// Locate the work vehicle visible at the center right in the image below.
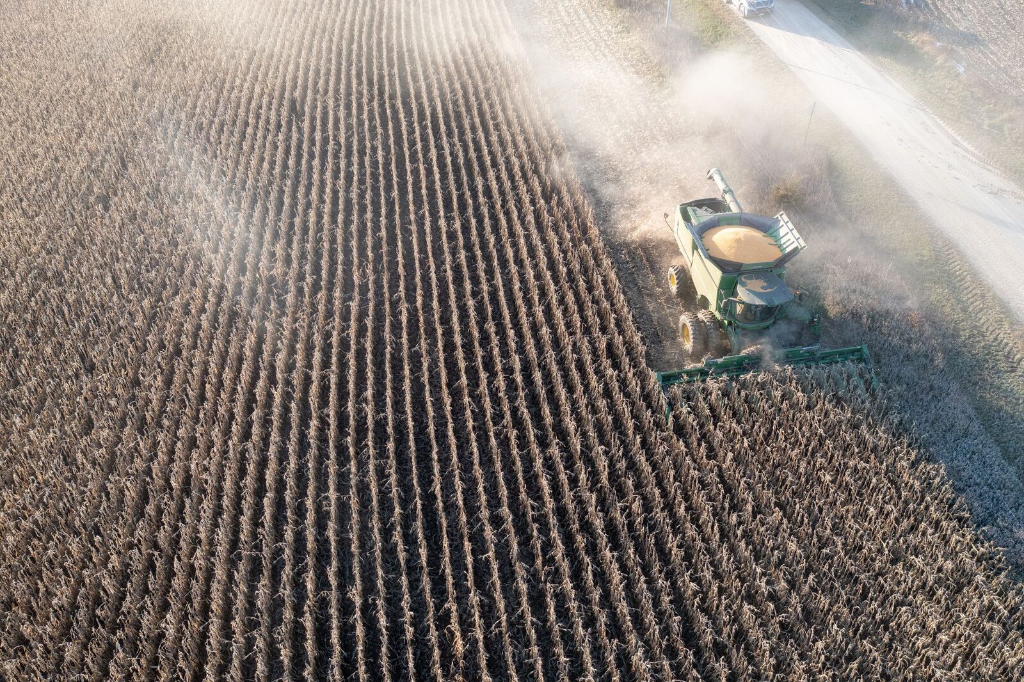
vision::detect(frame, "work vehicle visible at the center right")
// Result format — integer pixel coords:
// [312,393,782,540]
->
[656,165,887,422]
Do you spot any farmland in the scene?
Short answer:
Yes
